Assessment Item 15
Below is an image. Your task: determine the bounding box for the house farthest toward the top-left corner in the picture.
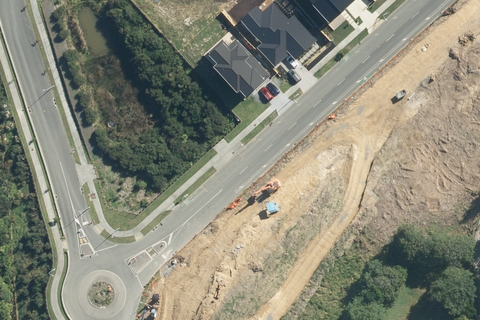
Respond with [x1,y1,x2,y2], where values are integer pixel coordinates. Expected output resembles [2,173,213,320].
[208,39,271,98]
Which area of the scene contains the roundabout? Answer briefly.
bottom left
